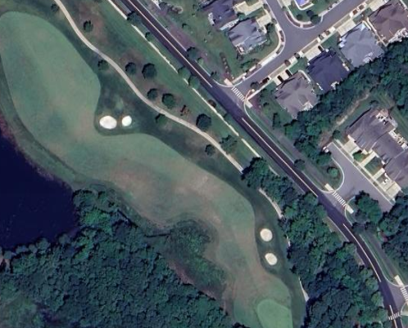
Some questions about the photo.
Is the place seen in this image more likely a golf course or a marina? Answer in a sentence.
This image shows a golf course.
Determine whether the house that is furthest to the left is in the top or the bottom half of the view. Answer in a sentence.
The house that is furthest to the left sits in the top half of the picture.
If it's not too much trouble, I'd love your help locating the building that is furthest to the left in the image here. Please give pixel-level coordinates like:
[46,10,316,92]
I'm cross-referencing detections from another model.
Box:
[203,0,236,28]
